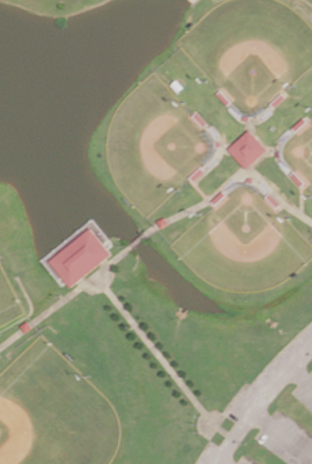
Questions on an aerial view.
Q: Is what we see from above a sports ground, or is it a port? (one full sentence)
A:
This image shows a sports ground.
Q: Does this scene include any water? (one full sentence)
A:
Yes, the picture does contain water.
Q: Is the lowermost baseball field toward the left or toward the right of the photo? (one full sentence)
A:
You can find the lowermost baseball field on the left side of the picture.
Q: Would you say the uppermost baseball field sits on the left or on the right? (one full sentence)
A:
The uppermost baseball field sits on the right side.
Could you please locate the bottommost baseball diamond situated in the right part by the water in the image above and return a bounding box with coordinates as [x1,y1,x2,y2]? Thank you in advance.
[173,188,312,292]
